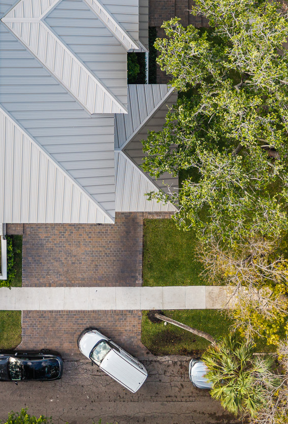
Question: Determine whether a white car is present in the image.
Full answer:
Yes, this view includes a white car.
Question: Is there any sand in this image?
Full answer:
No, the picture contains no sand.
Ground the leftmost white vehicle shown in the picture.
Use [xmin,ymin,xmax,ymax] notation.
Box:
[73,324,149,392]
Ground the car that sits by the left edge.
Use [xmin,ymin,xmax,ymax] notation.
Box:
[0,347,63,387]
